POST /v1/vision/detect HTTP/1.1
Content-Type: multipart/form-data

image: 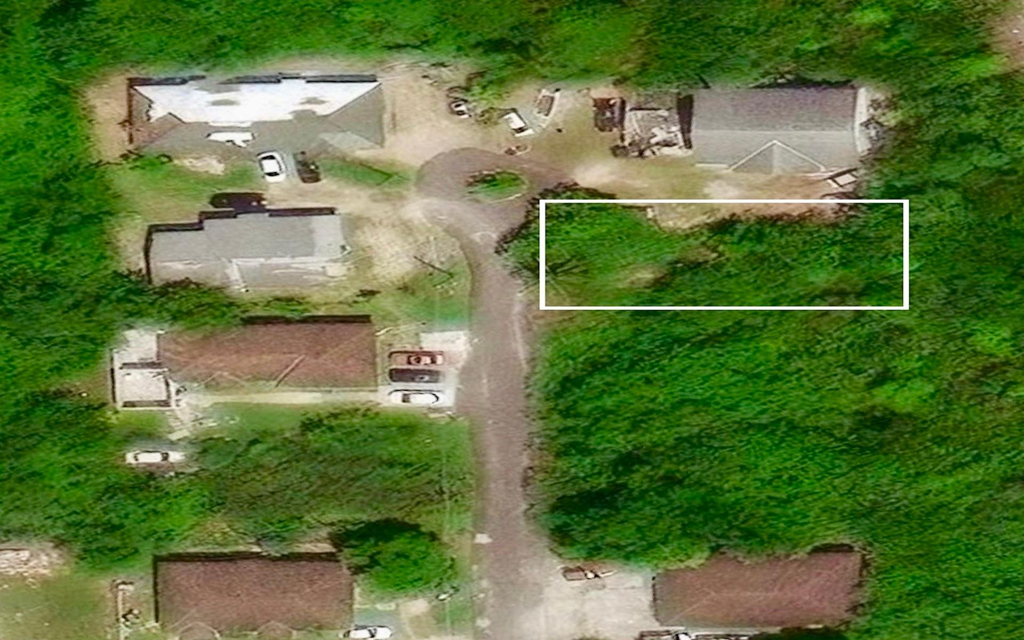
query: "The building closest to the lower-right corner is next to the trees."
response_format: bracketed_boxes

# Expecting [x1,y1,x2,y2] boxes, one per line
[655,552,859,631]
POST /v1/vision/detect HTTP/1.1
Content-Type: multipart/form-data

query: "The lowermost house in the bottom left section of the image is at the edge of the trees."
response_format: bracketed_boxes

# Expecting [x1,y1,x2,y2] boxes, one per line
[157,557,355,640]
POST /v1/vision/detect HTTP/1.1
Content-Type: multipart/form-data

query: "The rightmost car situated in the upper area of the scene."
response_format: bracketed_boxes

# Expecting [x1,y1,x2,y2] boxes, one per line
[593,96,620,134]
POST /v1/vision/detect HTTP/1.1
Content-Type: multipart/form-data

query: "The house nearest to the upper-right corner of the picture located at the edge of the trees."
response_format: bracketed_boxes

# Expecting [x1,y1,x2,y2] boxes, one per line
[692,86,860,173]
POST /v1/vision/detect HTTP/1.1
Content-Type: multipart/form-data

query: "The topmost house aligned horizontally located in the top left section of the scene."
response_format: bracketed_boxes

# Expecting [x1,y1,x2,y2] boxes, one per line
[132,80,387,152]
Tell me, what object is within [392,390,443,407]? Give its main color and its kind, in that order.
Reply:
white car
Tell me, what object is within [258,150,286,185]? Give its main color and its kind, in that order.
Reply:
white car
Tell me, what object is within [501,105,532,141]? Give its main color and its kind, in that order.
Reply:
white van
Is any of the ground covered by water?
No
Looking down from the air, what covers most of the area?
trees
